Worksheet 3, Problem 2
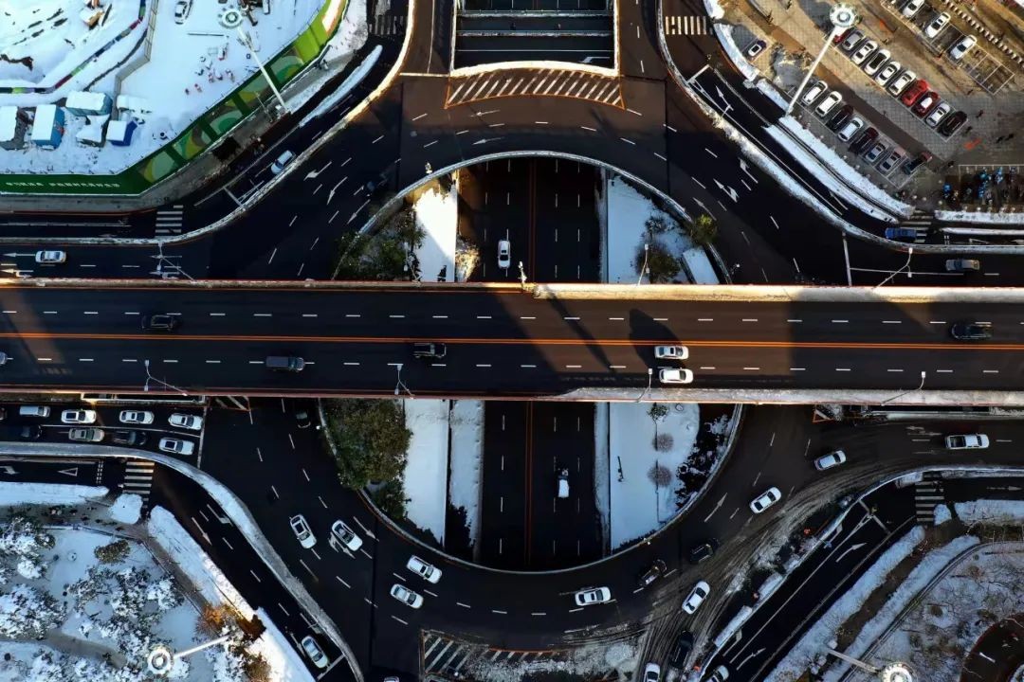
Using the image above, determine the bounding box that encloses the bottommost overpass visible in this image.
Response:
[0,279,1024,409]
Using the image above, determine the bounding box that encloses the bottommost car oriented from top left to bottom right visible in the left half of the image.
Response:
[300,634,332,670]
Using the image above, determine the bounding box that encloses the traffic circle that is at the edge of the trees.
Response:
[236,94,830,657]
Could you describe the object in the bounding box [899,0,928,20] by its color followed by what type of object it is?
white car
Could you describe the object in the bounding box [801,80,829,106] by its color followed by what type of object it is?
white car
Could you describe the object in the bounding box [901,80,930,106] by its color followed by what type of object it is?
red car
